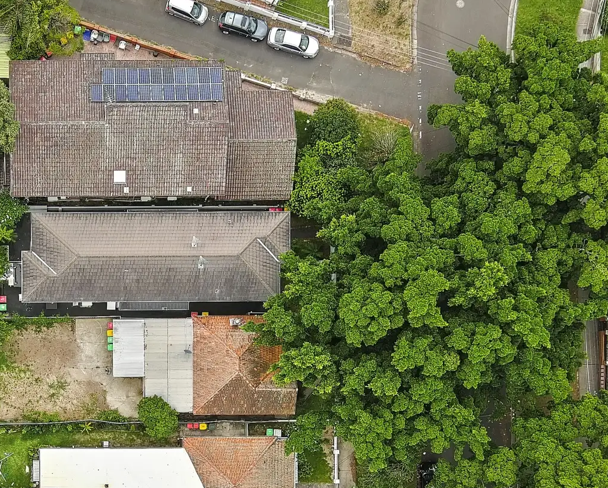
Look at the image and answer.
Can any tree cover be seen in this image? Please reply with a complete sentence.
Yes, tree cover shows up in the scene.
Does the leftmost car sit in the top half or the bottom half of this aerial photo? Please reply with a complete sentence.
You can find the leftmost car in the top half.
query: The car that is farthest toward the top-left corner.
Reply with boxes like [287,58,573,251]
[162,0,211,26]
